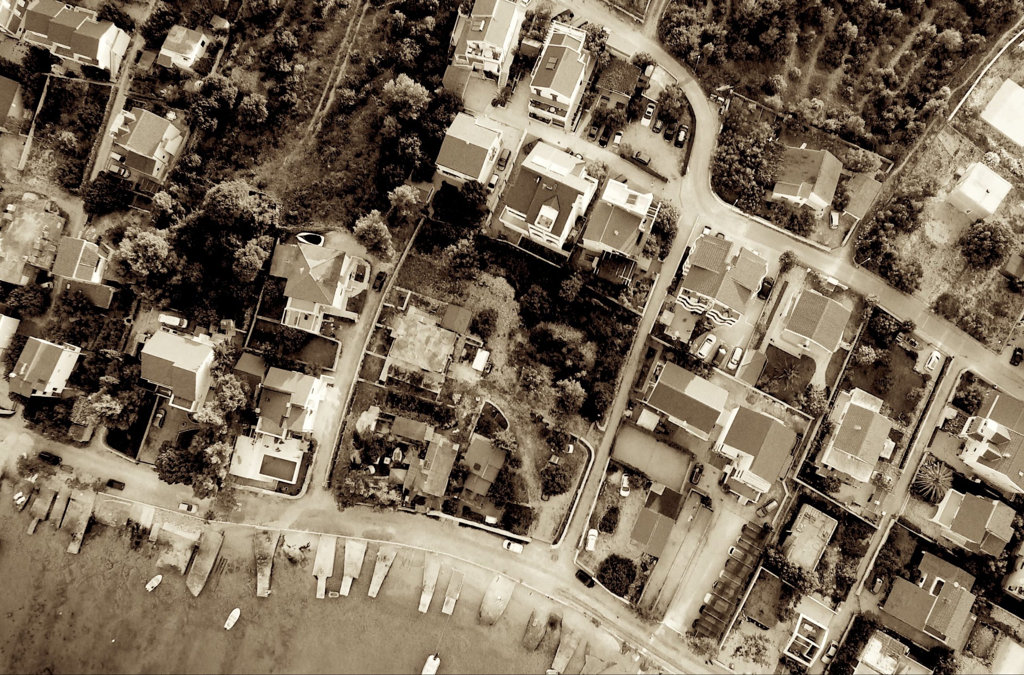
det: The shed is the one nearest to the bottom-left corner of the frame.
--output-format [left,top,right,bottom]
[69,420,101,444]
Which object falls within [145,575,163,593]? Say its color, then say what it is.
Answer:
white boat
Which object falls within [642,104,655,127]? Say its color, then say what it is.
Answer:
white vehicle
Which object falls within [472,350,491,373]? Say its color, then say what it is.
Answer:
white camper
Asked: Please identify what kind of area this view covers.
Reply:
residential area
